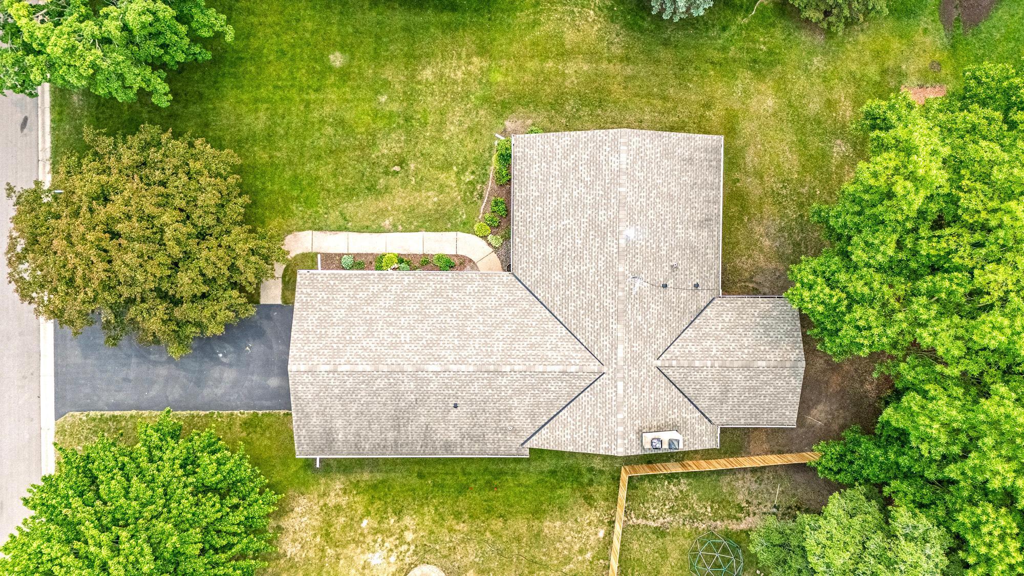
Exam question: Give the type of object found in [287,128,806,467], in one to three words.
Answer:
house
